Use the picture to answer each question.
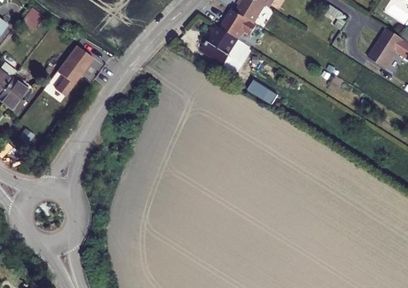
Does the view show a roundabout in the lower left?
Yes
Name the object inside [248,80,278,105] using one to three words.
shed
